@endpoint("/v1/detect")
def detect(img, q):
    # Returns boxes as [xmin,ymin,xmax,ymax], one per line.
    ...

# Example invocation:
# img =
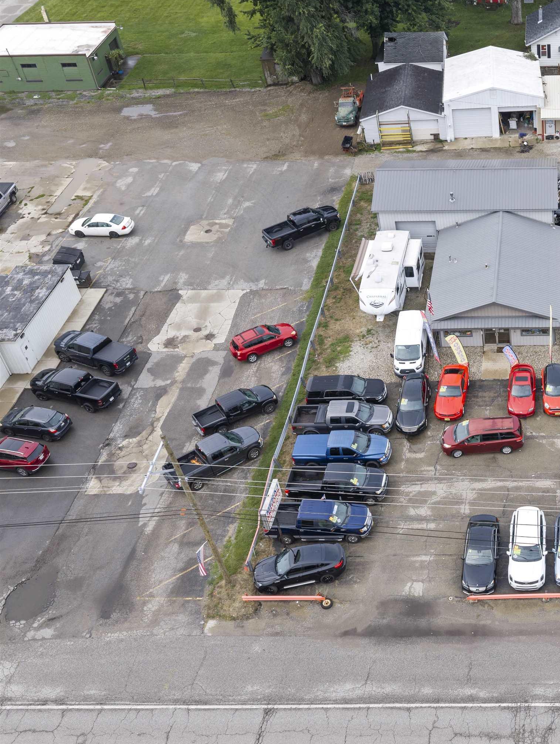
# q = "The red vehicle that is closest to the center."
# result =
[227,326,298,367]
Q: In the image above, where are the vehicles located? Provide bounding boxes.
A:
[302,377,390,407]
[540,364,560,417]
[390,305,429,384]
[253,547,348,595]
[29,369,126,416]
[0,437,53,481]
[459,520,499,601]
[507,511,547,593]
[395,378,431,438]
[0,406,78,447]
[189,387,281,441]
[441,416,525,459]
[435,367,469,424]
[259,210,342,253]
[261,500,375,547]
[227,326,298,367]
[288,430,393,470]
[69,215,136,241]
[506,367,537,419]
[157,427,267,498]
[333,73,365,126]
[0,187,28,215]
[51,334,143,378]
[292,400,393,437]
